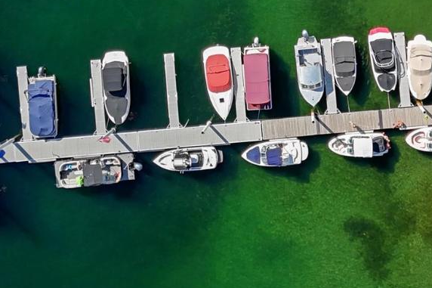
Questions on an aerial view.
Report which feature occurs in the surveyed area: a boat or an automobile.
boat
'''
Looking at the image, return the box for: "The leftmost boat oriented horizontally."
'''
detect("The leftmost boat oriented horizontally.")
[55,152,144,186]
